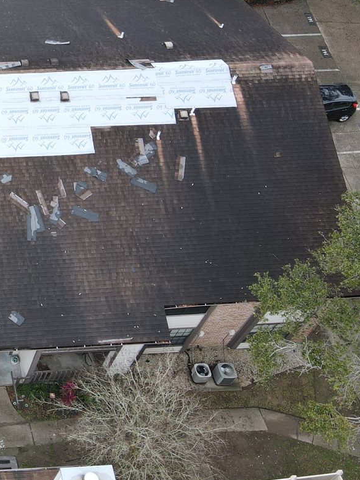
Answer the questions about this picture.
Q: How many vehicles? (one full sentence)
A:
My tally gives 1 vehicle in this photo.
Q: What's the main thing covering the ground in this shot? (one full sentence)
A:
The scene is dominated by buildings.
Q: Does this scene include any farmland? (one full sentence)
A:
No, there's no farmland in this view.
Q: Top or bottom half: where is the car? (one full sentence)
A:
The top half of the photo is where the car is.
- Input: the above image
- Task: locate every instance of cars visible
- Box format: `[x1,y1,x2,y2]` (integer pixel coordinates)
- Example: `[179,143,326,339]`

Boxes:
[317,78,355,120]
